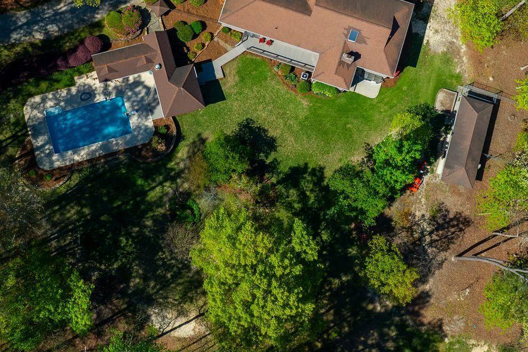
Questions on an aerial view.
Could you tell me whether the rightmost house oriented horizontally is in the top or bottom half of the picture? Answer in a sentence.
You can find the rightmost house oriented horizontally in the top half.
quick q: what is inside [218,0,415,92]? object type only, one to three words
house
